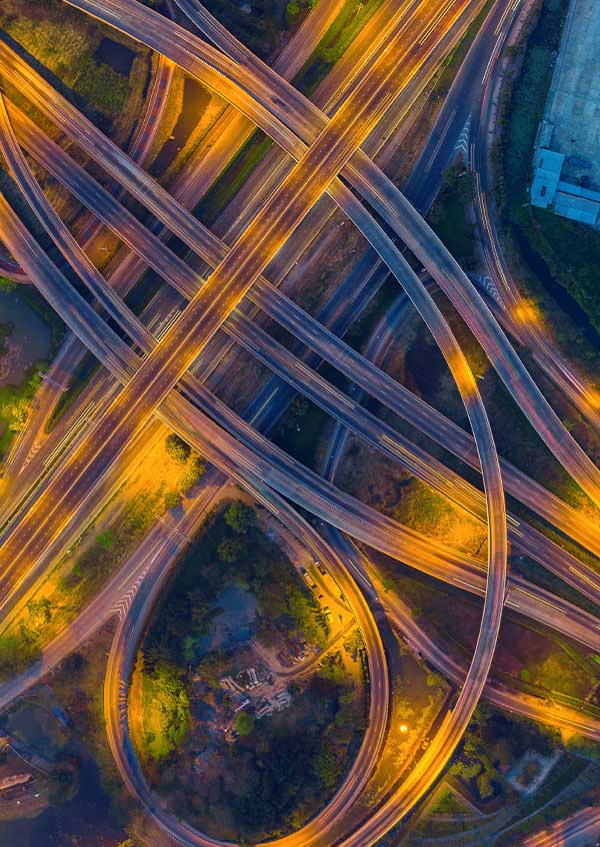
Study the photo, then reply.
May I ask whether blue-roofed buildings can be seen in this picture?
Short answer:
Yes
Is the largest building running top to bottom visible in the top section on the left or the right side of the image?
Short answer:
right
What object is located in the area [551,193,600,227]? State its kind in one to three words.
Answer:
building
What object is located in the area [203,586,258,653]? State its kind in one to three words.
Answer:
pond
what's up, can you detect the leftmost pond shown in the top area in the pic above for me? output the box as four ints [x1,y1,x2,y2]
[0,290,52,371]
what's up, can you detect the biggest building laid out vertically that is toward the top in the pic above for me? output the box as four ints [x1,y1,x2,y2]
[528,149,564,209]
